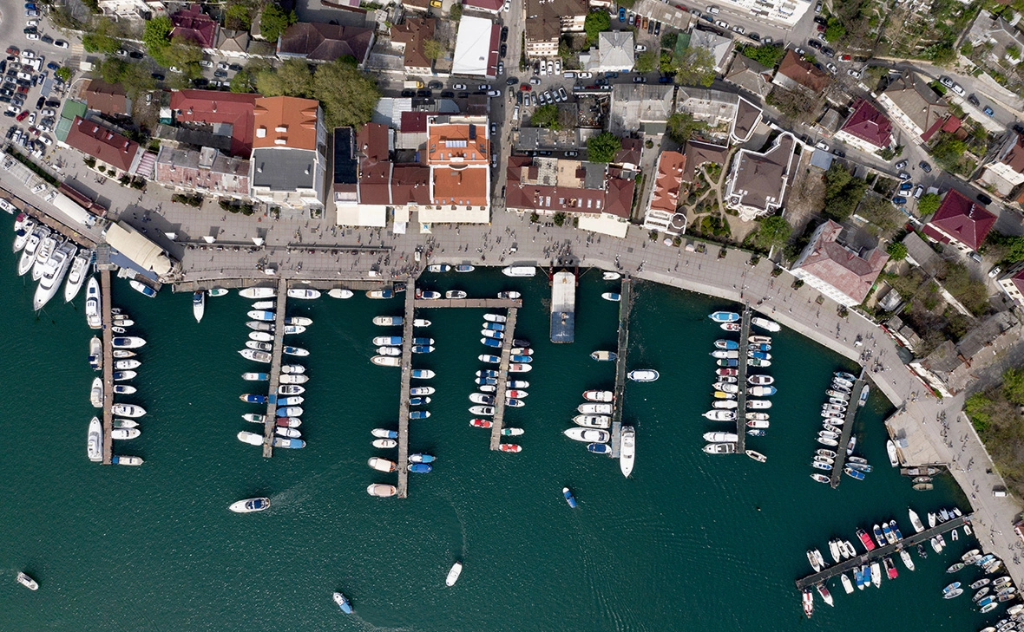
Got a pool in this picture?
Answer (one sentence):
No, no pool is visible in the view.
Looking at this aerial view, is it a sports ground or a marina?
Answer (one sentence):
The picture captures a marina.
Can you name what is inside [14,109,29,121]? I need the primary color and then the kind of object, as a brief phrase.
red vehicle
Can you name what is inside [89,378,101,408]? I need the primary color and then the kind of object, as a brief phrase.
white boat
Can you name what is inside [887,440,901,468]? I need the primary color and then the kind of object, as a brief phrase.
white boat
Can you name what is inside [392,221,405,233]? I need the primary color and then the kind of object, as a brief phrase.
white umbrella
